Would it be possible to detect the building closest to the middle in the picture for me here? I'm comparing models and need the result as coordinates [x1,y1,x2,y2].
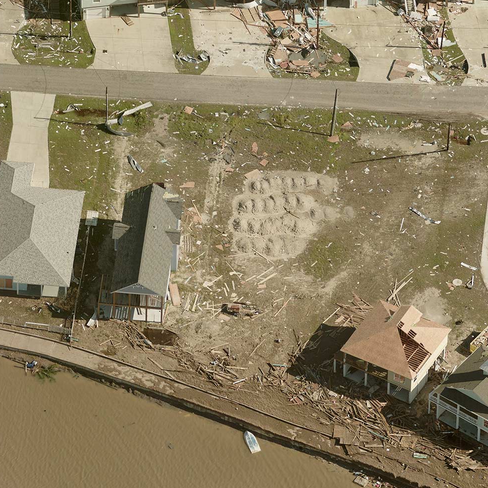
[99,178,184,325]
